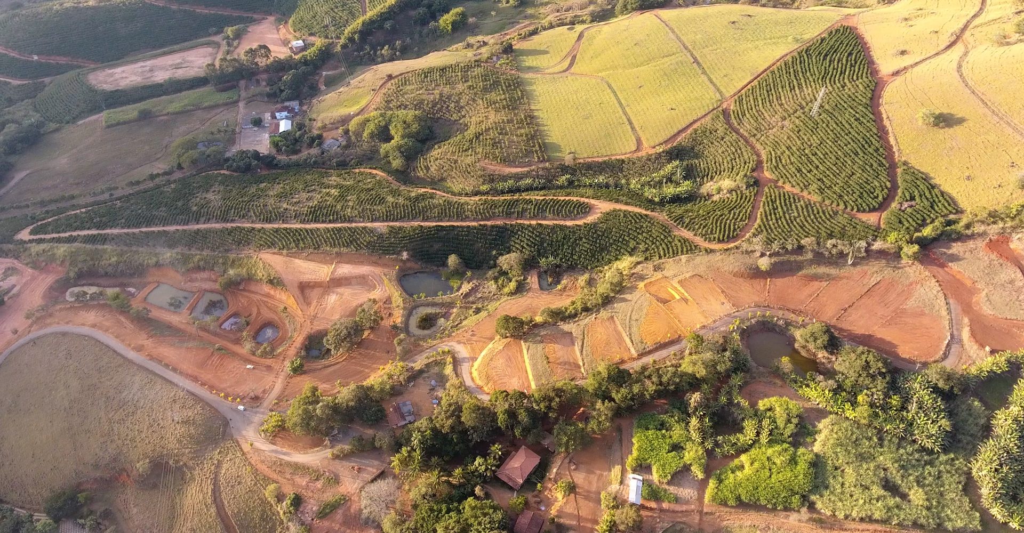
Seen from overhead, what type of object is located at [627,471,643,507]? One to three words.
shed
